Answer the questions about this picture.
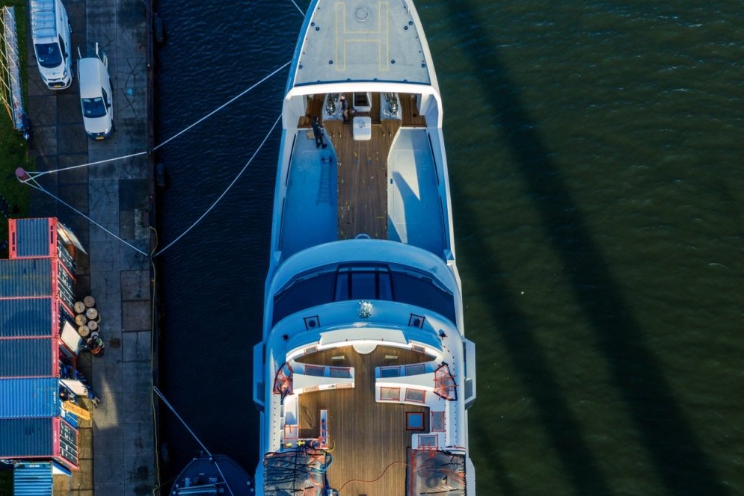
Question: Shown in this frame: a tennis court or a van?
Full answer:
Looking from above, you can make out a van.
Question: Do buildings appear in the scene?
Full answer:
No, I find no building anywhere in the image.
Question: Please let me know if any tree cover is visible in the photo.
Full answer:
No, there is no tree cover in the image.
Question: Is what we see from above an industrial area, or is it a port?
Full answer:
It's a port.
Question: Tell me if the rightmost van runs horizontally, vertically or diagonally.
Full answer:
The rightmost van has been laid out vertically relative to the frame.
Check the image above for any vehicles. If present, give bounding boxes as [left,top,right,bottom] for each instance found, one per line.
[29,0,75,84]
[73,35,118,136]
